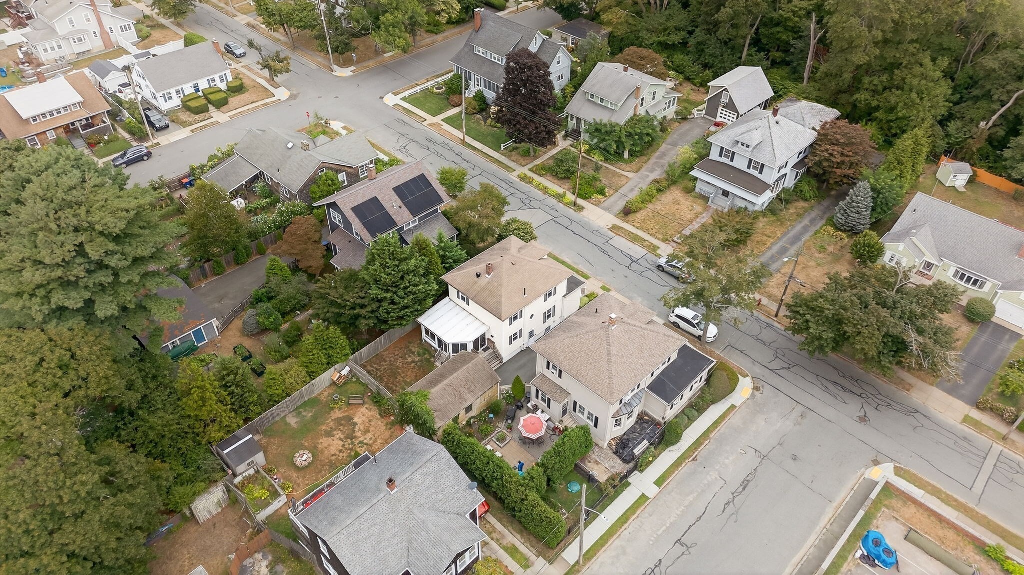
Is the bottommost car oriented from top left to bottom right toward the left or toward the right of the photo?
right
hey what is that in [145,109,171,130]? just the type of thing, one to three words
truck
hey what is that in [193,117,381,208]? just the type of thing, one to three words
house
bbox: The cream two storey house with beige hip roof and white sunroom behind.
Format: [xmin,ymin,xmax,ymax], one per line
[416,235,588,363]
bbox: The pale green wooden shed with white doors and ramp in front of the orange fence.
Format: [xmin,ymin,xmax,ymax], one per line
[936,155,973,190]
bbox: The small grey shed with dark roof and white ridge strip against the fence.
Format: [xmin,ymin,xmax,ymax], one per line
[217,428,265,477]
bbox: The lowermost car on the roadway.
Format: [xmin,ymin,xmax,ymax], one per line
[674,304,722,342]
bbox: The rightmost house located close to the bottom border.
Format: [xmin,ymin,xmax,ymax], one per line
[288,432,487,575]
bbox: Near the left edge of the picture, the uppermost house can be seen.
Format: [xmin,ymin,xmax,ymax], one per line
[0,0,142,62]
